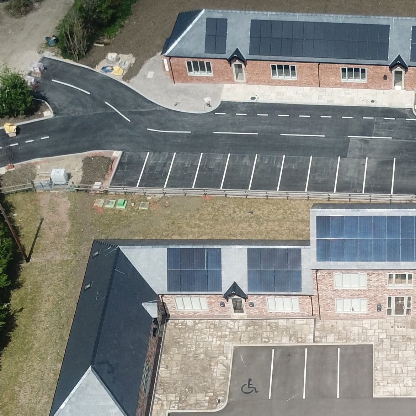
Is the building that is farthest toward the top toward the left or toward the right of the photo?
right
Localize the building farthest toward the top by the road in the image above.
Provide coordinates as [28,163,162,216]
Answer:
[163,10,416,89]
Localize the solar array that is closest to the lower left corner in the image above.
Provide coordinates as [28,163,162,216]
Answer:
[166,248,222,292]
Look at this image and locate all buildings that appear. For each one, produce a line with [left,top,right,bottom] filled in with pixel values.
[49,202,416,416]
[163,10,416,89]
